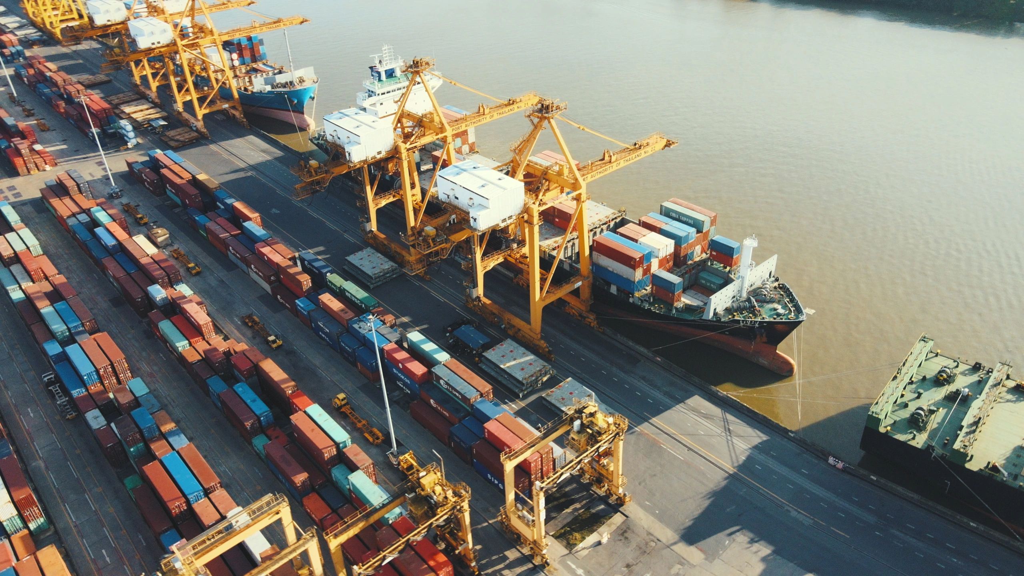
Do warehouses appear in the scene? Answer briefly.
No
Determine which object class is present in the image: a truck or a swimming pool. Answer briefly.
truck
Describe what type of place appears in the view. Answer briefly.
port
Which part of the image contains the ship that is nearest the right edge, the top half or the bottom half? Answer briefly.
bottom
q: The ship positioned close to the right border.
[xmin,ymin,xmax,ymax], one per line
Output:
[859,328,1024,535]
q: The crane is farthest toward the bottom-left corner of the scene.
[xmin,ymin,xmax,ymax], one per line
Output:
[163,489,337,576]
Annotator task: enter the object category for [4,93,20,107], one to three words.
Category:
vehicle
